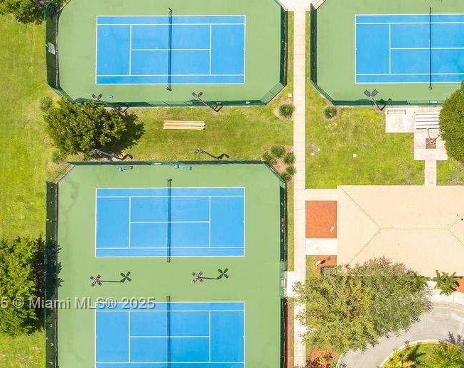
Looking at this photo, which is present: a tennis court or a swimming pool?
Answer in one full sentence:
There is a tennis court in the scene.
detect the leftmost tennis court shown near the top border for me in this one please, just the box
[58,0,285,104]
